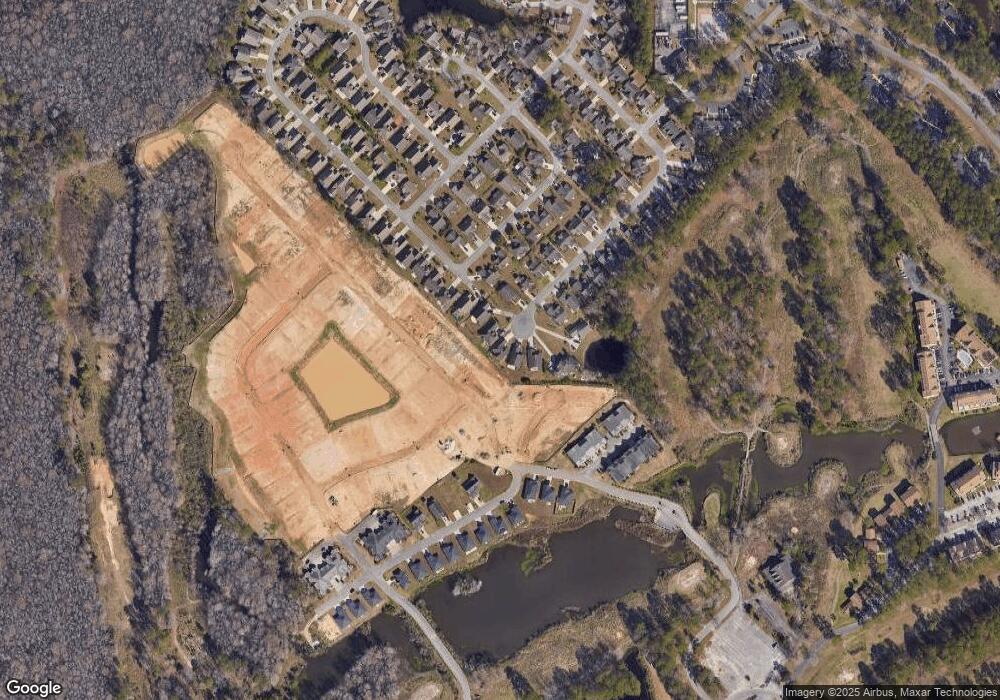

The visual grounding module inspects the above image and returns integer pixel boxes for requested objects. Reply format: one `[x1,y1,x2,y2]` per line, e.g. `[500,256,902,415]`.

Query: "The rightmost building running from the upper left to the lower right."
[957,326,996,367]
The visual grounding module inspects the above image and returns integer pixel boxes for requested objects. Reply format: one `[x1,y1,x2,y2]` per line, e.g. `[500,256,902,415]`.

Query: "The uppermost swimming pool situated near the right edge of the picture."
[956,348,975,370]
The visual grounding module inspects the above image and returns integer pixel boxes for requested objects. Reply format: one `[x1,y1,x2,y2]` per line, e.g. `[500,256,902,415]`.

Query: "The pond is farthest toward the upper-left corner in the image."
[395,0,506,34]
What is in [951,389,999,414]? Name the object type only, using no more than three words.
building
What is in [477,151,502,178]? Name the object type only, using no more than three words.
house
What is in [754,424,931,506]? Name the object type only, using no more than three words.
pond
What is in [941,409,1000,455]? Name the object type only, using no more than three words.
pond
